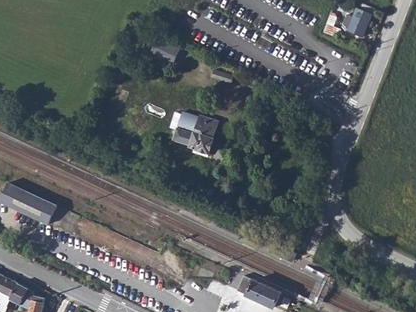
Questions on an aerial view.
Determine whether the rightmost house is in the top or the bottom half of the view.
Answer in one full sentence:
You can find the rightmost house in the top half.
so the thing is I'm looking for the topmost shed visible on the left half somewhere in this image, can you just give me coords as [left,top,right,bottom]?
[152,38,180,60]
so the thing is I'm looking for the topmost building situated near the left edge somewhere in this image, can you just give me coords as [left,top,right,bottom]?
[0,183,56,225]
